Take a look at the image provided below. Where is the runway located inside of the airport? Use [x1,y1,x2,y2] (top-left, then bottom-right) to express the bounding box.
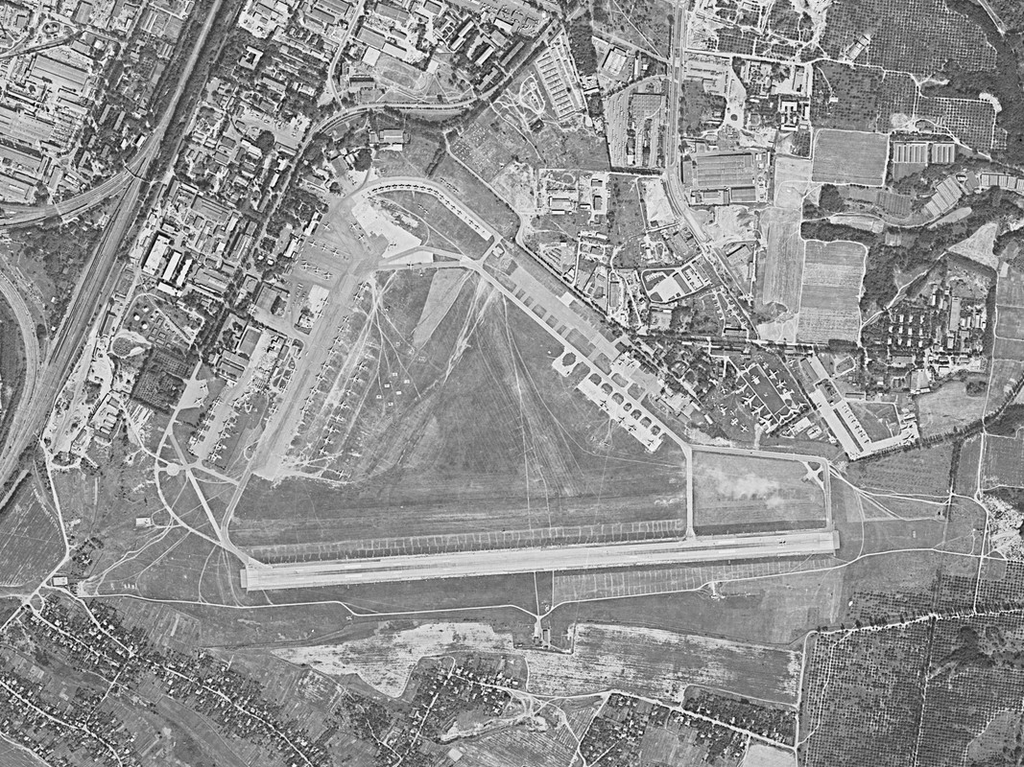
[248,535,834,587]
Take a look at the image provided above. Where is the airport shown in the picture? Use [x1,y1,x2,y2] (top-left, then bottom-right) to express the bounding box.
[155,175,919,605]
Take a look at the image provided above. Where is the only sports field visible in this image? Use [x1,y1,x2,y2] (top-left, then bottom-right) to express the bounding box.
[376,52,433,93]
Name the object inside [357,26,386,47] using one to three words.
building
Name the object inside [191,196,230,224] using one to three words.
building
